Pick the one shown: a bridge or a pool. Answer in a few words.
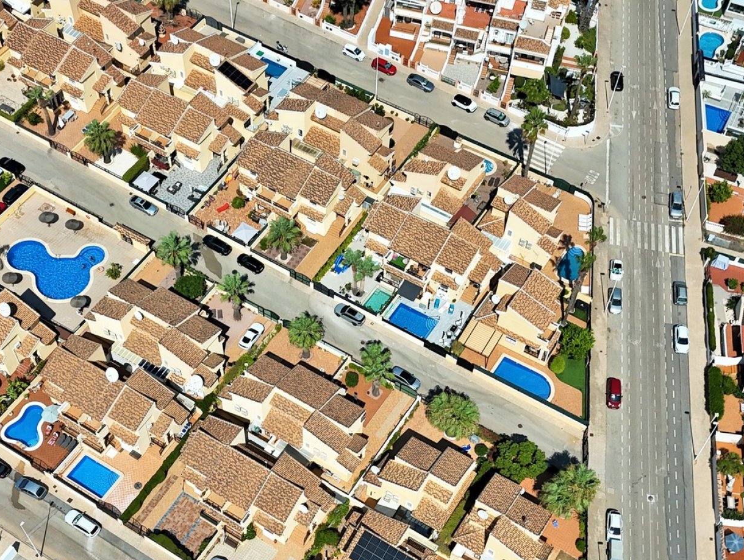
pool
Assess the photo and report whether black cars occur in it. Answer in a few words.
Yes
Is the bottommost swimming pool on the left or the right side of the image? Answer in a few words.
left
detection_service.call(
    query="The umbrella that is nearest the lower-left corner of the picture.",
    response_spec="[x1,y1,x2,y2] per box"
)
[34,399,58,421]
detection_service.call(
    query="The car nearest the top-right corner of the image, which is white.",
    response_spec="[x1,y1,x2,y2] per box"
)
[666,87,681,111]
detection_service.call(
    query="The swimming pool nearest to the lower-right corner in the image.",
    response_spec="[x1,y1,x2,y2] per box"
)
[493,359,553,399]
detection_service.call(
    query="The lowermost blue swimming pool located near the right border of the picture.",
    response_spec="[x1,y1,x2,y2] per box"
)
[705,104,733,134]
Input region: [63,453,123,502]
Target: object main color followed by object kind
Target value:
blue swimming pool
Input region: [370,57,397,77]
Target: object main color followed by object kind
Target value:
red car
